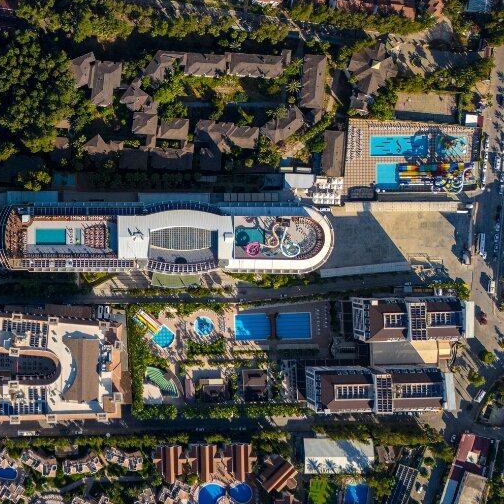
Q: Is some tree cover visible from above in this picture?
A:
Yes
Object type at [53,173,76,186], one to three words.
swimming pool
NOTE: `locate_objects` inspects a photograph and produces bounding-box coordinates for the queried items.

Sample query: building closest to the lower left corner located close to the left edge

[0,478,25,504]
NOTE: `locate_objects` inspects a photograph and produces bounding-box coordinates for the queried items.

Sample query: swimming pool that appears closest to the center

[236,226,266,246]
